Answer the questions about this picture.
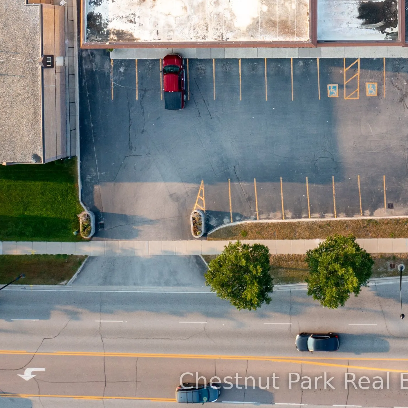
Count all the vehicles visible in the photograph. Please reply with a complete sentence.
Looking from above, you can make out 3 vehicles.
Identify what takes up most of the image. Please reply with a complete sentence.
Most of the picture is covered by paved ground.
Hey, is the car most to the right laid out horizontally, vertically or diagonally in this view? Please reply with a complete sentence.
I'd say the car most to the right is aligned horizontally in the picture.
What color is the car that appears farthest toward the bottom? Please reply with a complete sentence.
In this view, the car that appears farthest toward the bottom is blue.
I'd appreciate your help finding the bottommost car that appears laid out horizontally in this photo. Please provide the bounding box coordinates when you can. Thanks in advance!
[174,382,223,406]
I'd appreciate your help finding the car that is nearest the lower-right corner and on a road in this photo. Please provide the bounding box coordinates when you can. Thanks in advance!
[294,332,341,355]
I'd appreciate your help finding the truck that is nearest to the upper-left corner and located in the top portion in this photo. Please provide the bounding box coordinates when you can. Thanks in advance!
[161,53,186,110]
